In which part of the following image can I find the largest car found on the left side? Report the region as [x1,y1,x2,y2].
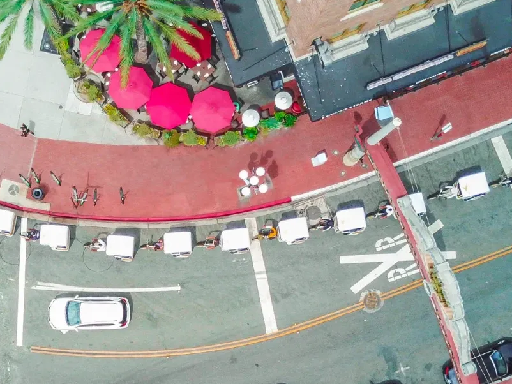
[47,292,133,335]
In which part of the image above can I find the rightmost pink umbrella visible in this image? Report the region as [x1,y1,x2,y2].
[191,86,237,134]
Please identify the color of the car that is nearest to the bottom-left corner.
white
